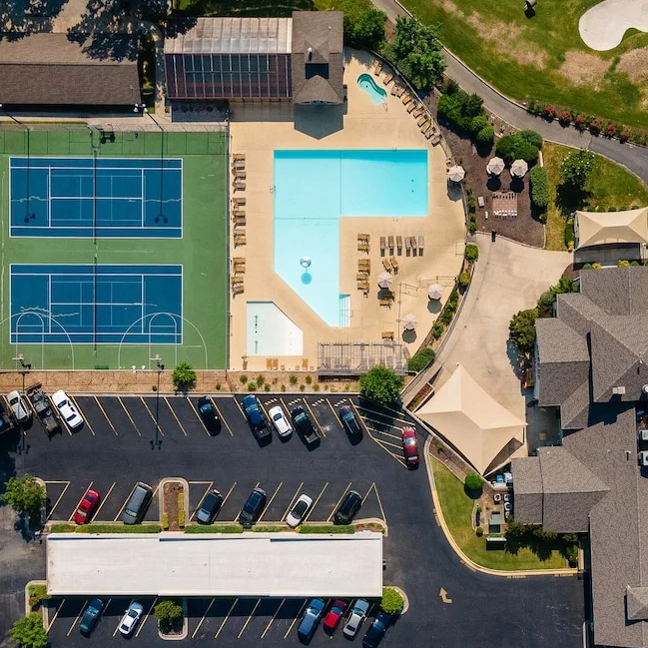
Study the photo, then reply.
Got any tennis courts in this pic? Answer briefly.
Yes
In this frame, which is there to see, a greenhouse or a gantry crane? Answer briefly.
greenhouse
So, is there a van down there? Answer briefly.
Yes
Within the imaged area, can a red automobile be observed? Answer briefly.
Yes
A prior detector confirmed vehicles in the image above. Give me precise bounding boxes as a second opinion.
[288,402,321,448]
[285,493,313,528]
[296,599,325,637]
[238,488,266,525]
[22,385,63,436]
[72,487,101,523]
[0,407,12,433]
[343,600,371,637]
[239,393,273,440]
[121,483,151,522]
[194,395,222,432]
[361,608,394,648]
[334,489,362,526]
[323,598,348,631]
[336,403,364,440]
[116,600,144,637]
[77,598,104,635]
[5,389,33,427]
[195,488,223,524]
[54,391,82,427]
[400,426,419,466]
[266,402,294,439]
